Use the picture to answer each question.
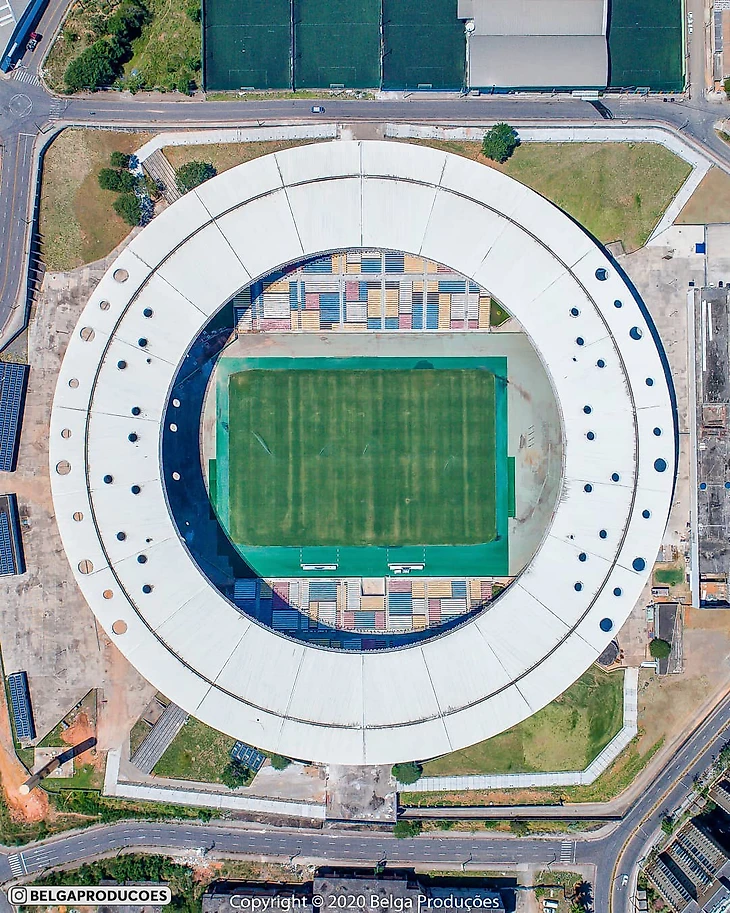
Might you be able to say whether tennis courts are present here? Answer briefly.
No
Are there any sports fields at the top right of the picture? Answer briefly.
Yes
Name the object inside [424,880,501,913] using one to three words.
building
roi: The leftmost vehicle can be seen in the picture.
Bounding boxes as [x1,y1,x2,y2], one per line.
[26,32,38,48]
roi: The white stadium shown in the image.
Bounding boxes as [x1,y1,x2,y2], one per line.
[49,141,675,765]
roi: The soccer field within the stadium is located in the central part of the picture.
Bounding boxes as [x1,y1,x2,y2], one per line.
[209,357,516,577]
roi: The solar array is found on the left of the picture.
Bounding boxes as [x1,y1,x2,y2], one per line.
[229,739,267,772]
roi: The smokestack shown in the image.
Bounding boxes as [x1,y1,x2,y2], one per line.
[21,757,64,794]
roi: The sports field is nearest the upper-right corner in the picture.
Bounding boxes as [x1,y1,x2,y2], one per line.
[611,0,683,90]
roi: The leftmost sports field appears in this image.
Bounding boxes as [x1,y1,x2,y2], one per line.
[206,0,289,87]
